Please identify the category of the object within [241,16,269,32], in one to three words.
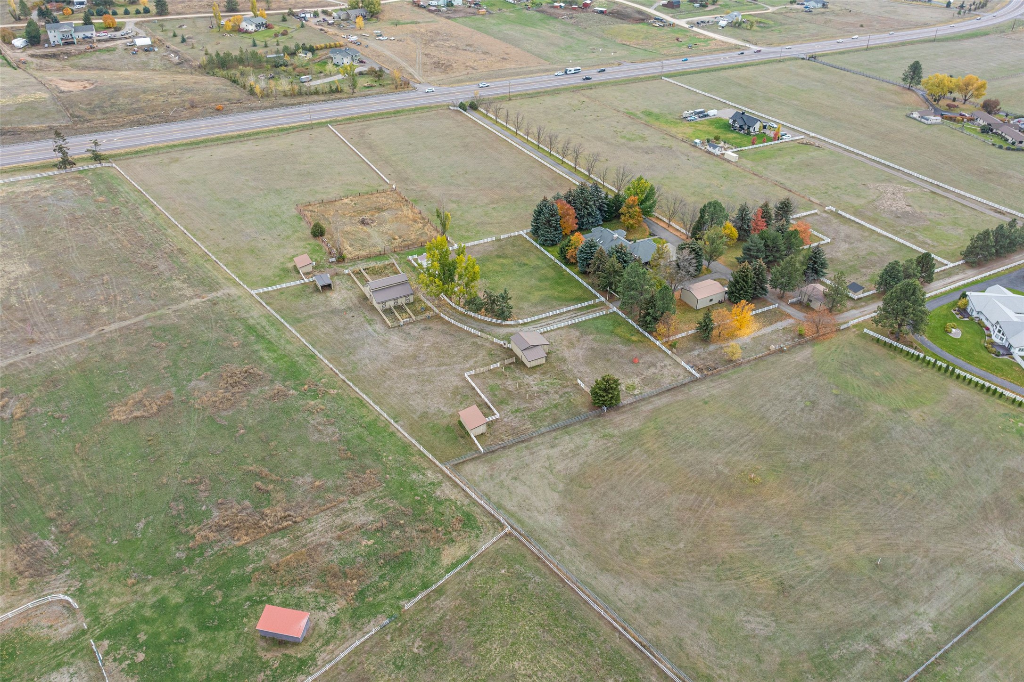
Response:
house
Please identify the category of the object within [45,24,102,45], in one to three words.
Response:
house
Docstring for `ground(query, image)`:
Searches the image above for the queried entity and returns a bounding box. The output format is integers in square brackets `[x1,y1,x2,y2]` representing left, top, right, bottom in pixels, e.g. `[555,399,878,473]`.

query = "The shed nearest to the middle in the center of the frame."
[508,330,552,367]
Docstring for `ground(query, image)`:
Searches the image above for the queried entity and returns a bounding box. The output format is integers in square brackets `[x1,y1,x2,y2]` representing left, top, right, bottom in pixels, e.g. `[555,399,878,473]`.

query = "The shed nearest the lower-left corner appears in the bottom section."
[255,605,309,643]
